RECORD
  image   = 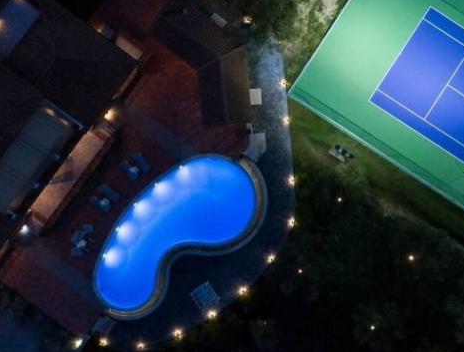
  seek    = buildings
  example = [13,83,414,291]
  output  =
[150,0,262,124]
[0,0,140,253]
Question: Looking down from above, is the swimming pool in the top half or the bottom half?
bottom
